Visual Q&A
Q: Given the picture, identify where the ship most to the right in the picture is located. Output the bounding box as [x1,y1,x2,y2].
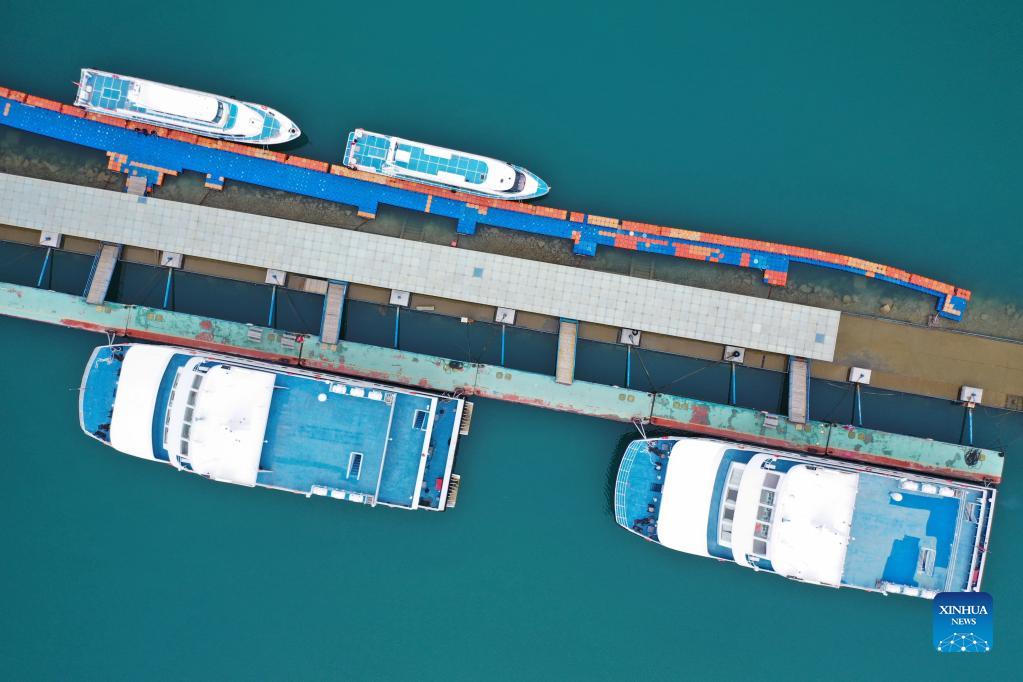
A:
[823,421,1001,482]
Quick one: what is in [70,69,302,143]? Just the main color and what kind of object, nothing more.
white boat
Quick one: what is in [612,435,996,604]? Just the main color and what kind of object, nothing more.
white ship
